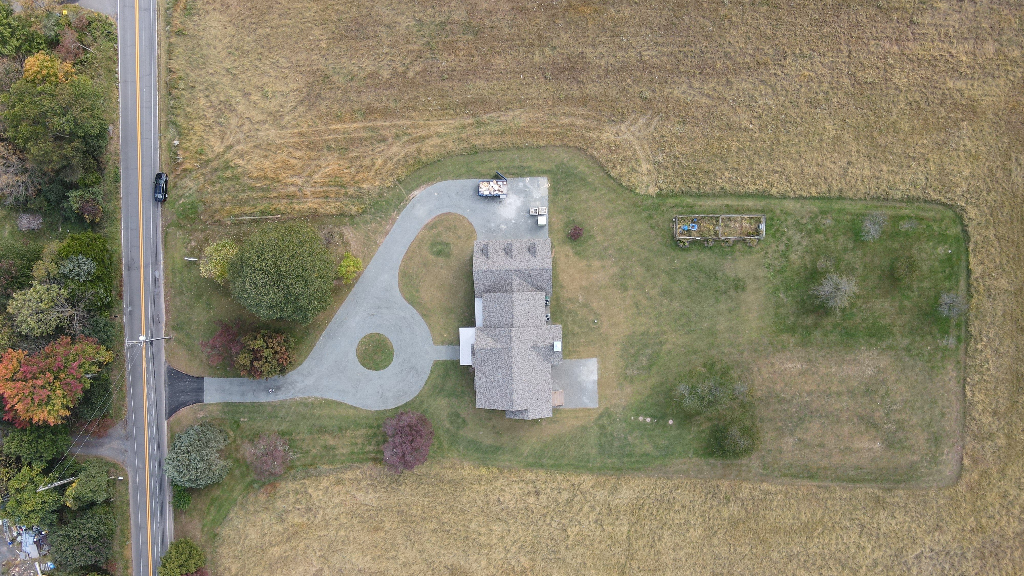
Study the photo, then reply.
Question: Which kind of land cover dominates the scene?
grass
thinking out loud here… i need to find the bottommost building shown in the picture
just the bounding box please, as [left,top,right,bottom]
[459,239,563,420]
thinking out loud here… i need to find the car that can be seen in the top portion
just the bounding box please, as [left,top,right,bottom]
[153,172,170,202]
